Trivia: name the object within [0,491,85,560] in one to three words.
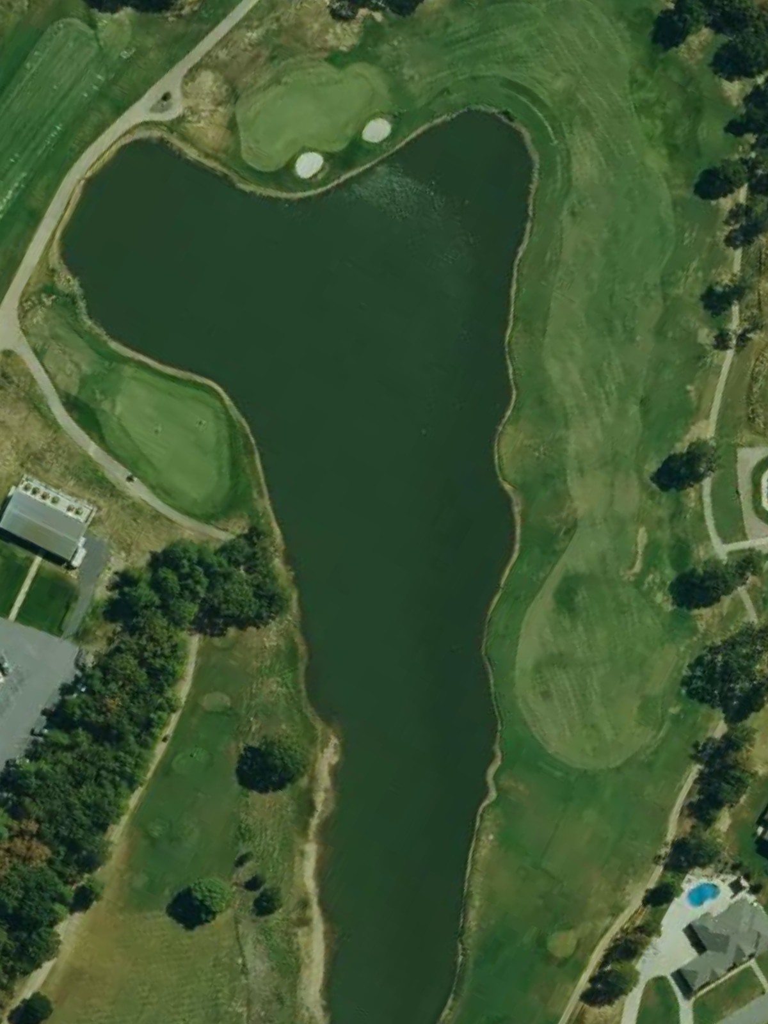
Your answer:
building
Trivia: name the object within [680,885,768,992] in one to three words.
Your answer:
house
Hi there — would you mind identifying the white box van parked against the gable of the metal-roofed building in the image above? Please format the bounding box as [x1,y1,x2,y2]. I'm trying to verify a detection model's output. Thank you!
[70,546,86,566]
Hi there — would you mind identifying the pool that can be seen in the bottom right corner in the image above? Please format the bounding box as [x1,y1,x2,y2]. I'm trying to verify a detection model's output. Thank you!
[686,881,721,909]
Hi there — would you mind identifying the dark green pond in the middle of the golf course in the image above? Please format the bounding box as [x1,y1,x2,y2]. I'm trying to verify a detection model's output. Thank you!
[61,108,533,1024]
